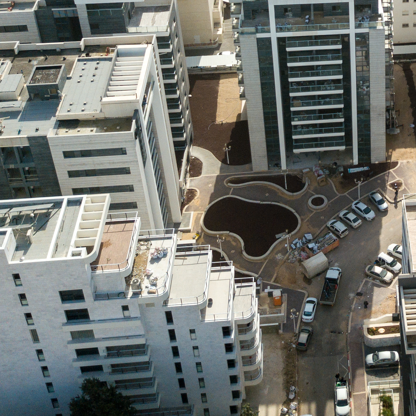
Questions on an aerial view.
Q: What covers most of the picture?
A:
buildings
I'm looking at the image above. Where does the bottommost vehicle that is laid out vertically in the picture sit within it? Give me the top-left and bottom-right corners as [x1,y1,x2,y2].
[335,382,351,416]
